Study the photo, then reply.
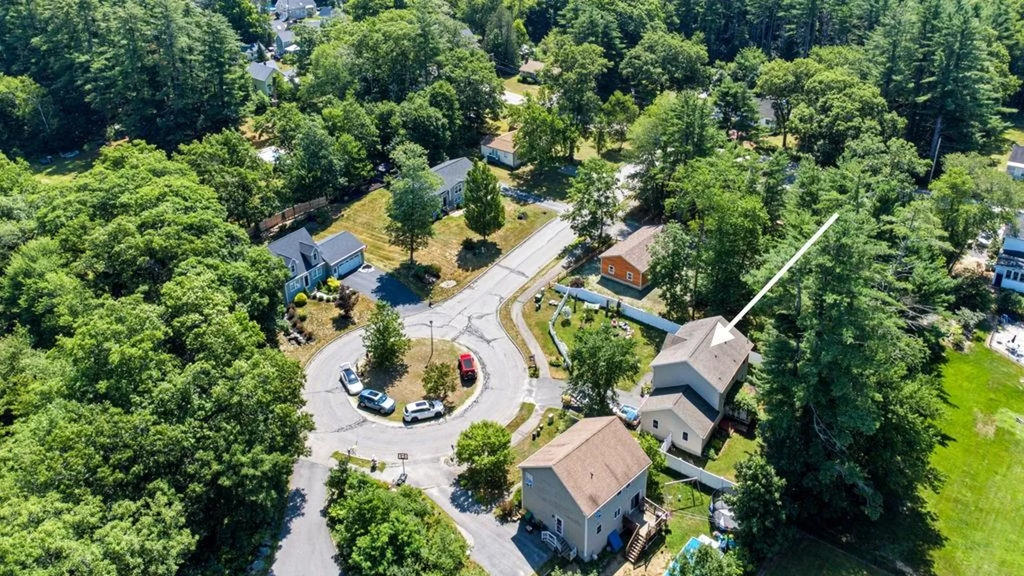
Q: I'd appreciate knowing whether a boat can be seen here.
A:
Yes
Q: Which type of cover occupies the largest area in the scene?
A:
trees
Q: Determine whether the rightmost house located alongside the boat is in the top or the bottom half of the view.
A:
bottom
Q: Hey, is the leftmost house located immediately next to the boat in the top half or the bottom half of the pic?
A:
bottom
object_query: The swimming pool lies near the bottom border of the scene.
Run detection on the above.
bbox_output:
[666,538,730,576]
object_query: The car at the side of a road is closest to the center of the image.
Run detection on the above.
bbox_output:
[457,354,477,380]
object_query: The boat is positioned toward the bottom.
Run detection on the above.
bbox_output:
[607,398,642,429]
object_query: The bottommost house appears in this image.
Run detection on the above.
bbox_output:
[518,415,677,562]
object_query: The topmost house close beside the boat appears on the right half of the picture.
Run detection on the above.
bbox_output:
[638,314,769,456]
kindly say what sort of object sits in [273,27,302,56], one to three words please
house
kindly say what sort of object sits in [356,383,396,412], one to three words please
car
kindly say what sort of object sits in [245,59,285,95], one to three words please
building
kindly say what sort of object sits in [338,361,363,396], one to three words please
car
